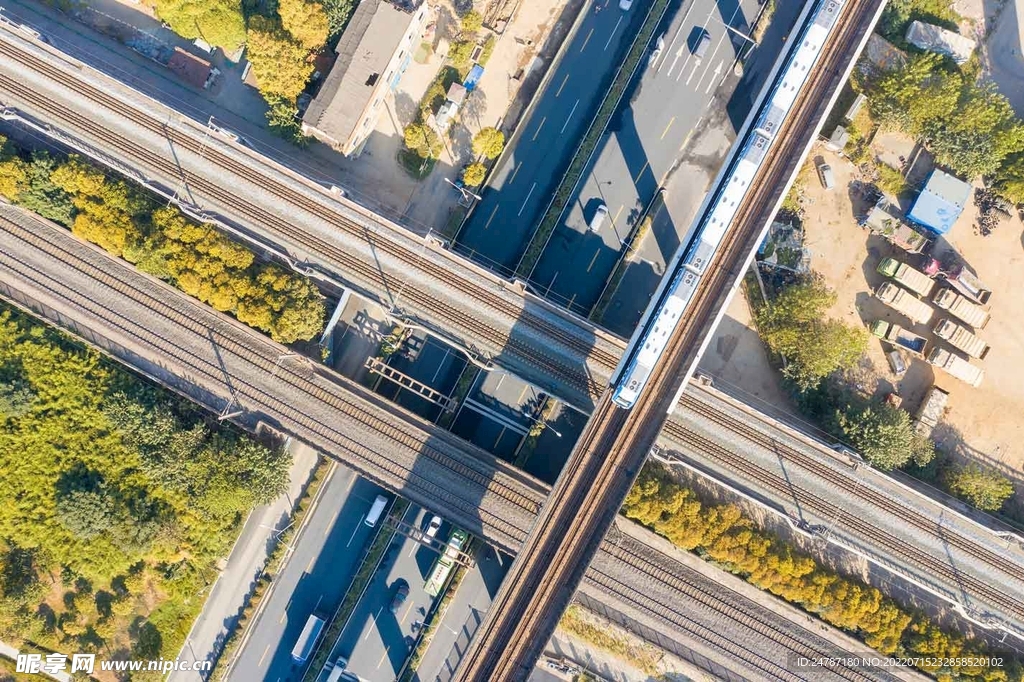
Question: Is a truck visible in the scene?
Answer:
Yes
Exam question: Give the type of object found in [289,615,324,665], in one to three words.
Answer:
truck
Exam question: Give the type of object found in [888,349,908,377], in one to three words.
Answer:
car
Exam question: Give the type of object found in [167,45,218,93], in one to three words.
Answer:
shed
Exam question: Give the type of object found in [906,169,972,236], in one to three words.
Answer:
building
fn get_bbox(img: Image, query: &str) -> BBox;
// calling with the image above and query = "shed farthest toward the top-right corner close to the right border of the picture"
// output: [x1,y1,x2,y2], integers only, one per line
[895,20,975,72]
